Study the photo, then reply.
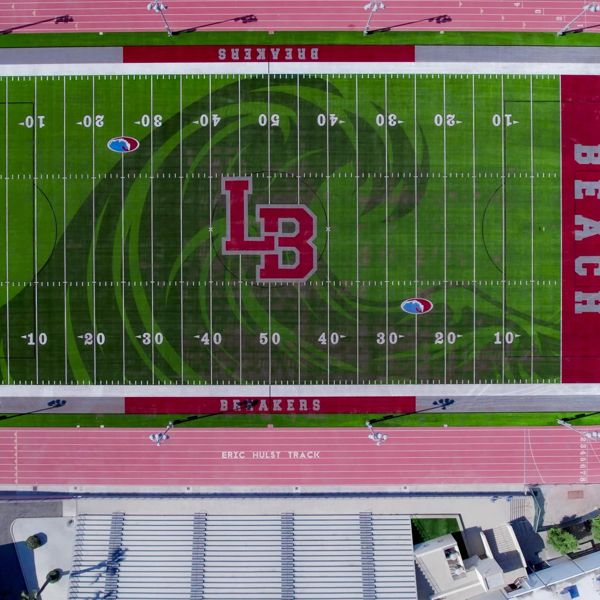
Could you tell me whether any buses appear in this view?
No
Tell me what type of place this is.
sports ground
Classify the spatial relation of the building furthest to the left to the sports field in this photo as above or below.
below it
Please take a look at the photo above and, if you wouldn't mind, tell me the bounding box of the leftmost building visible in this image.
[412,534,481,600]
